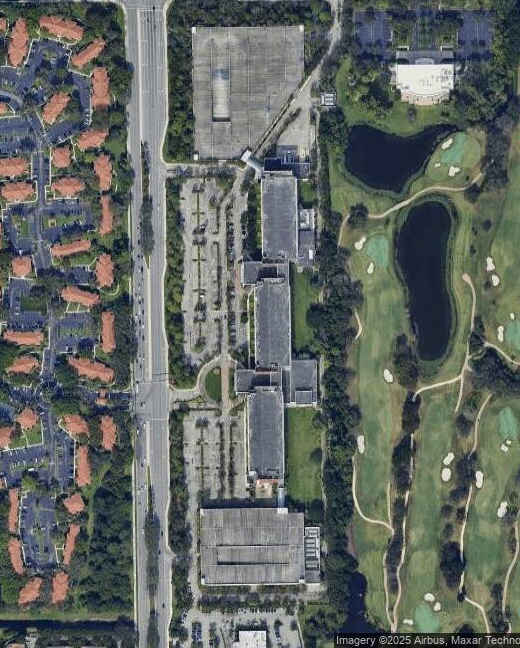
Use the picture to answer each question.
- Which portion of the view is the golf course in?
right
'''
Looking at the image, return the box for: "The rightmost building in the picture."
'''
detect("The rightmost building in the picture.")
[390,59,460,106]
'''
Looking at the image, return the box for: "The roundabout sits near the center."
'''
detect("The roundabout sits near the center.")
[198,353,222,409]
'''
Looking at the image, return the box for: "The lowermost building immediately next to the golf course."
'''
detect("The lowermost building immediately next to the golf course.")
[200,507,305,586]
